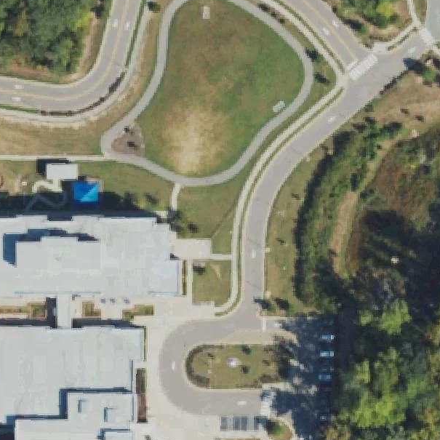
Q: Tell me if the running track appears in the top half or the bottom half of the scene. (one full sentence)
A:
You can find the running track in the top half.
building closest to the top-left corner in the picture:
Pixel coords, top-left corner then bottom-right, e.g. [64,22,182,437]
[47,164,77,179]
